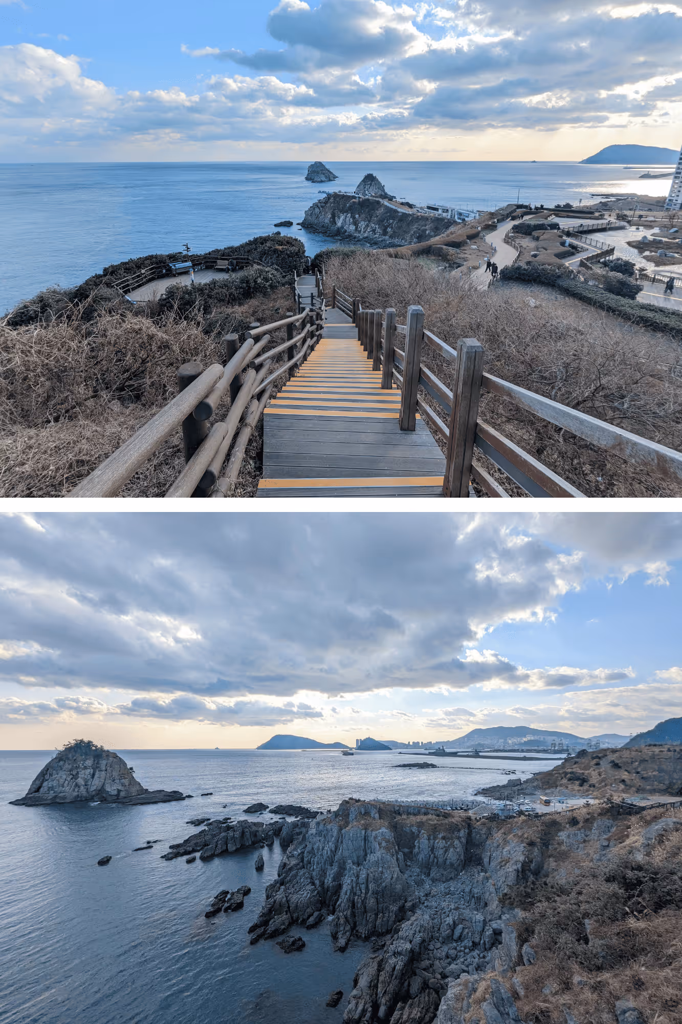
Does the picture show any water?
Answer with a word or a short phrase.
Yes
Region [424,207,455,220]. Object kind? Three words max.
building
